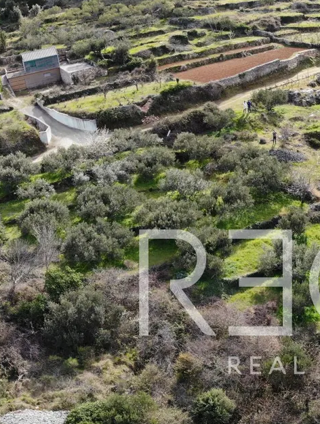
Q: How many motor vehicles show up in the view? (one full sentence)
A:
No motor vehicles are visible.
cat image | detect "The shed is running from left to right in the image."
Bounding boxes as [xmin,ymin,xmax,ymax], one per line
[2,56,93,100]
